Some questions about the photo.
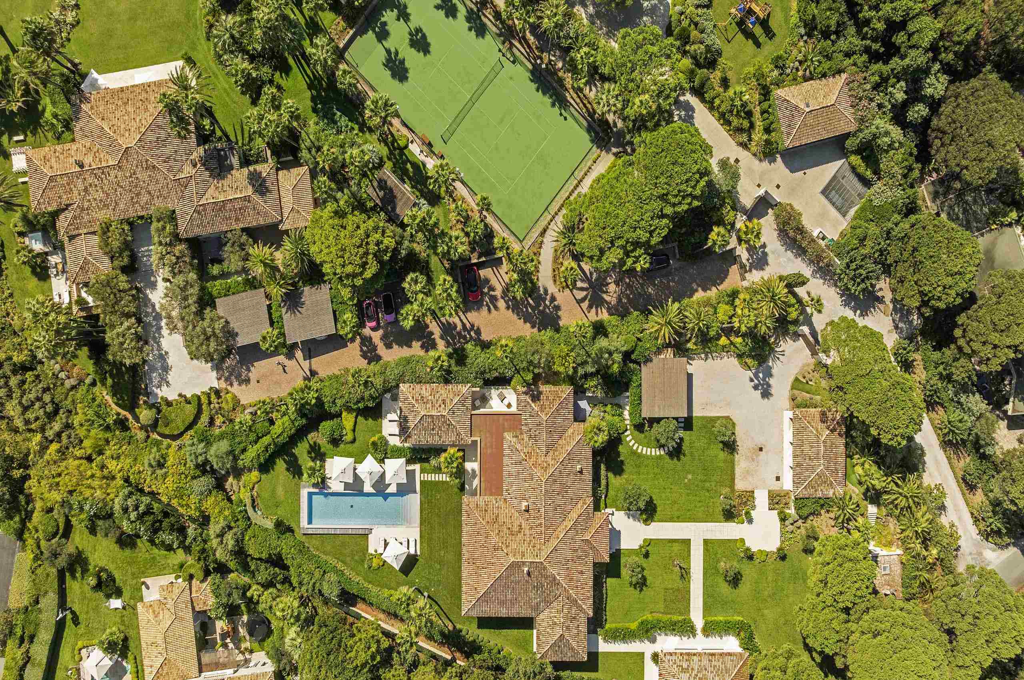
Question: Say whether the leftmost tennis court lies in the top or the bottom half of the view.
top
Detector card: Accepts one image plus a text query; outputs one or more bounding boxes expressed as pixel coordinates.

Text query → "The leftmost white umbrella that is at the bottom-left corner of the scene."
[84,647,113,680]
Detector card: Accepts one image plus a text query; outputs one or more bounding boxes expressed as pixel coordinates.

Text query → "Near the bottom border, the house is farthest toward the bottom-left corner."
[136,576,278,680]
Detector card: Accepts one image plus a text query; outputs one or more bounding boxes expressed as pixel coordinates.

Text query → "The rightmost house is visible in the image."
[996,359,1024,415]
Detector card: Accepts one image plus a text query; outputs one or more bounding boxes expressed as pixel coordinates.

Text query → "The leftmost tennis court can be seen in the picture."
[347,0,601,241]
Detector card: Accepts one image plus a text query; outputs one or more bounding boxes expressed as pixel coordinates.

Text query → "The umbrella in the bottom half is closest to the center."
[577,400,592,420]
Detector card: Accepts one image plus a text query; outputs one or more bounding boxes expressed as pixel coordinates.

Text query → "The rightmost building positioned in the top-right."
[774,73,858,147]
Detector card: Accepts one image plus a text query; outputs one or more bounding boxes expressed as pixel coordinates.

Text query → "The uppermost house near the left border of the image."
[24,75,322,317]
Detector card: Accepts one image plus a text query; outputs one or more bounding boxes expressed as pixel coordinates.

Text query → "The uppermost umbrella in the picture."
[81,69,107,92]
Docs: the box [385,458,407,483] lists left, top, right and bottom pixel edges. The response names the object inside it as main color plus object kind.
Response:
white umbrella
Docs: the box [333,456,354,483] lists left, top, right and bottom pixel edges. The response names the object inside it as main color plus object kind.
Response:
white umbrella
